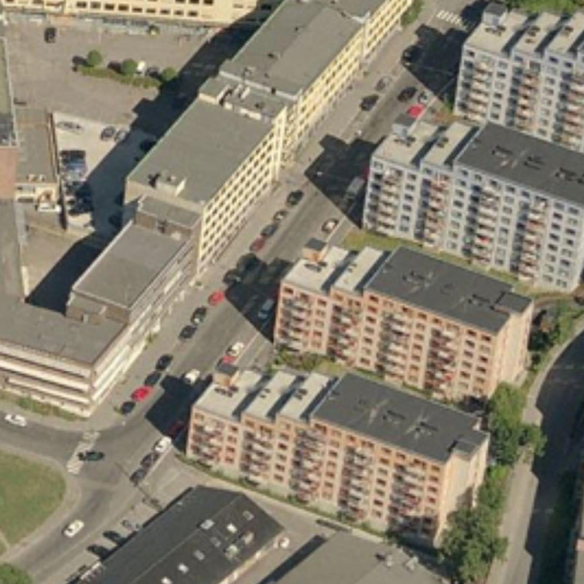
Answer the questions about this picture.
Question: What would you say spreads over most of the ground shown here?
buildings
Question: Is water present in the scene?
No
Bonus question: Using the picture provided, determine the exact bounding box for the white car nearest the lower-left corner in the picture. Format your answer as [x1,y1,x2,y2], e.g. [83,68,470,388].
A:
[65,522,83,537]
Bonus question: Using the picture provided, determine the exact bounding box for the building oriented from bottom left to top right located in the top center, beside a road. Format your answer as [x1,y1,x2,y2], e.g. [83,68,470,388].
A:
[121,0,412,275]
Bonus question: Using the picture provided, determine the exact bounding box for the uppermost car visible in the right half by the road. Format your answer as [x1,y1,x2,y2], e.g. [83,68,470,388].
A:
[403,46,418,60]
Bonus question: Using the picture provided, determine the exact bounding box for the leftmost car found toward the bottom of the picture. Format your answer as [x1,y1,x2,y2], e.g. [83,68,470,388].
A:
[5,414,27,426]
